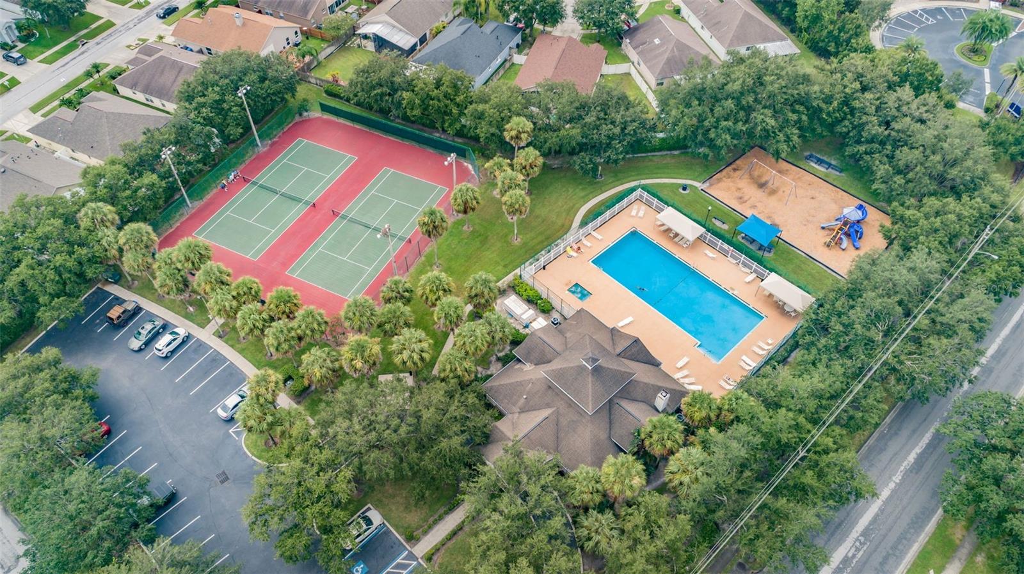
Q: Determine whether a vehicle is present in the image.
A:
Yes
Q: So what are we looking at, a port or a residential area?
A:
residential area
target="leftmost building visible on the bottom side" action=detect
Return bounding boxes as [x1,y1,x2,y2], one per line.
[481,307,689,479]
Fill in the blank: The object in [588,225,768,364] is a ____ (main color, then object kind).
blue swimming pool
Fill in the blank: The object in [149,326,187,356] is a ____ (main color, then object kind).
white car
